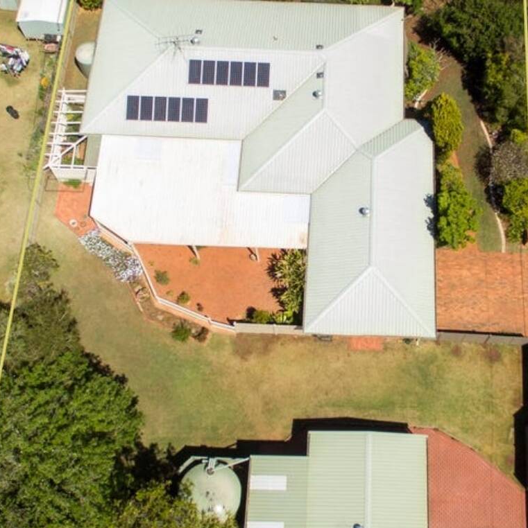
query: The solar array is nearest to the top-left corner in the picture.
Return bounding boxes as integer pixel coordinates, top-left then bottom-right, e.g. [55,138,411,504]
[127,95,206,125]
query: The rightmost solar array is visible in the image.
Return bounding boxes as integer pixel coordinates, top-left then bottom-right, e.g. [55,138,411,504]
[188,60,268,89]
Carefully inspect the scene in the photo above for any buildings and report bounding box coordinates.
[80,0,437,340]
[17,0,77,38]
[243,430,430,528]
